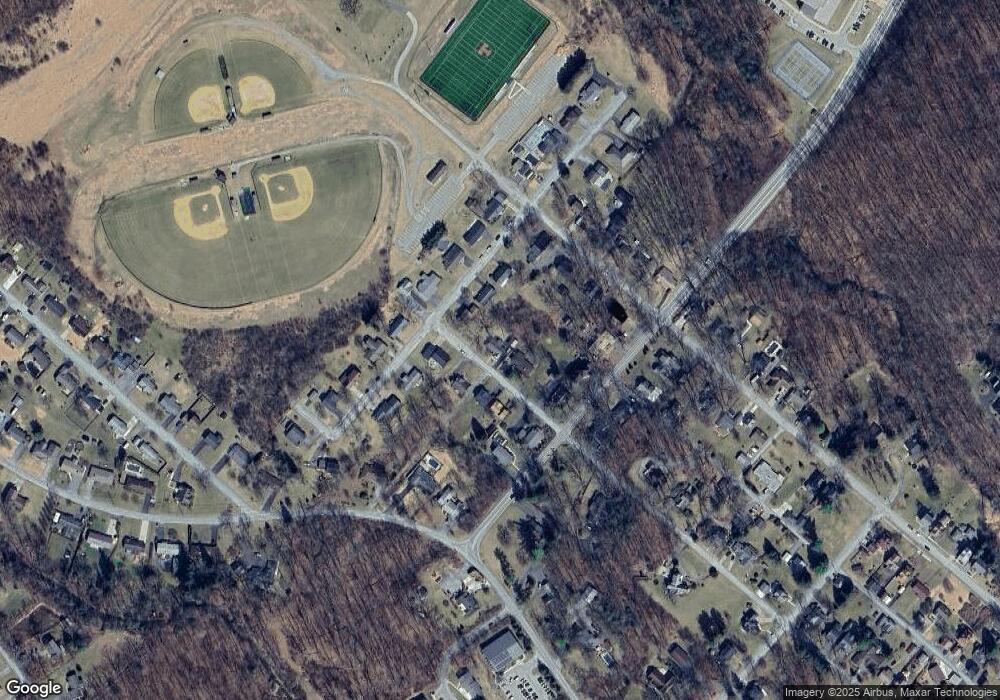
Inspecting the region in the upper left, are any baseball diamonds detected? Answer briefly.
Yes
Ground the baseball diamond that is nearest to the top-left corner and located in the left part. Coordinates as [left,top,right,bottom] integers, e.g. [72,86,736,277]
[147,47,231,141]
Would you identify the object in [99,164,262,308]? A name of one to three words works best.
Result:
baseball field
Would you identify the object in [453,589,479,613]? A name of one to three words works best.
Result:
house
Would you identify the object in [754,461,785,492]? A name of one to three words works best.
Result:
building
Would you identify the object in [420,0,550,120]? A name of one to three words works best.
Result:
sports field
